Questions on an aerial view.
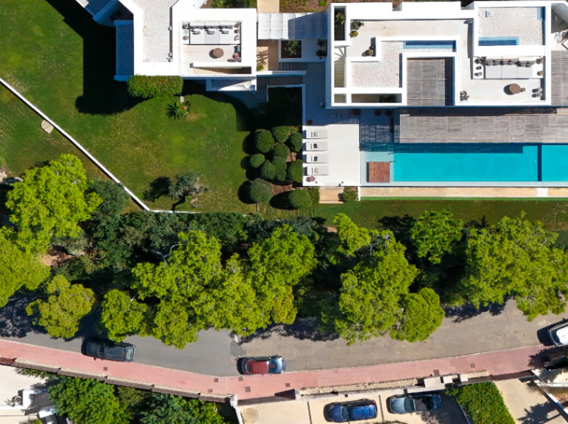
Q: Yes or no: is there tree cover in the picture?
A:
Yes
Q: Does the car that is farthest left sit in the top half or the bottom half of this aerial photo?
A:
bottom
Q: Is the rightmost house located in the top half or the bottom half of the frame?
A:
top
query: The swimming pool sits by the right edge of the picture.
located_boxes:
[360,143,568,187]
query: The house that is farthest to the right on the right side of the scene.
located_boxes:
[323,0,568,144]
